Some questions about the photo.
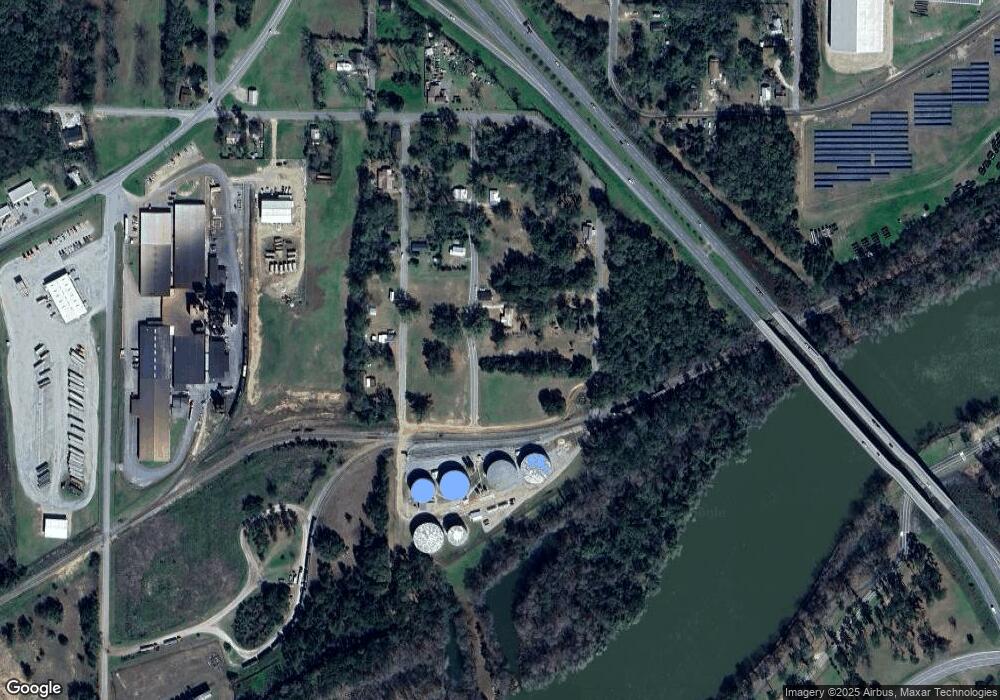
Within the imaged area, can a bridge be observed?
Yes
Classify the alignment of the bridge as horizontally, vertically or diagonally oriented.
diagonally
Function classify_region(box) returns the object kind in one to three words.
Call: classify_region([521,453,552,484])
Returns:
storage tank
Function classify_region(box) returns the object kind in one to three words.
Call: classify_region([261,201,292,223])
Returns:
building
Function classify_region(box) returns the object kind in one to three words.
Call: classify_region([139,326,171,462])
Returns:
shed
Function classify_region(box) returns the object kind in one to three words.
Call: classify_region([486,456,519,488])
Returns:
storage tank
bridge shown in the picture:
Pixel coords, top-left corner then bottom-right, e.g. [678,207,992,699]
[755,318,942,522]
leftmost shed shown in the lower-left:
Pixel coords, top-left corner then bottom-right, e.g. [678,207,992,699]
[44,519,67,539]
